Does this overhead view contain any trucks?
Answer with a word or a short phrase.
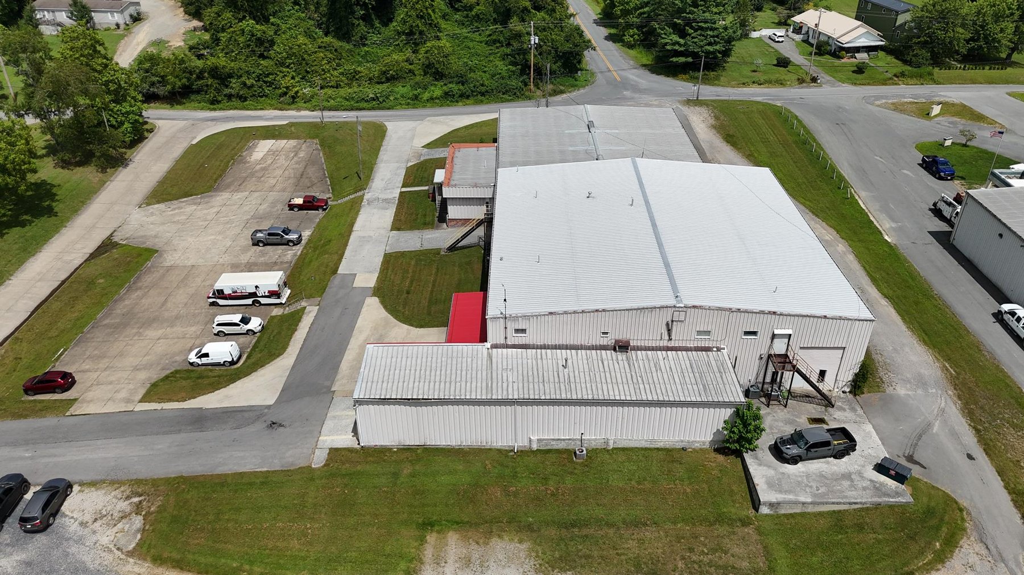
Yes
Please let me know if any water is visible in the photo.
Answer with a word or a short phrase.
No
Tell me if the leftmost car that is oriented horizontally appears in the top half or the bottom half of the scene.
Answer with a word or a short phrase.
bottom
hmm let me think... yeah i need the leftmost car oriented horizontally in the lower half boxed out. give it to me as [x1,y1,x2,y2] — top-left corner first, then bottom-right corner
[15,366,80,393]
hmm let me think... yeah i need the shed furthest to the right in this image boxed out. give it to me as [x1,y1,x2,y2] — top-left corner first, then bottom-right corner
[951,183,1024,304]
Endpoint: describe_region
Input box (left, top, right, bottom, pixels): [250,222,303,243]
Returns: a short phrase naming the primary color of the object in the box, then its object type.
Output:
gray truck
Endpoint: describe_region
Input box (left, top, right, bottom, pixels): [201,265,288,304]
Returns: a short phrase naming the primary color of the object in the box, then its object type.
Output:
white truck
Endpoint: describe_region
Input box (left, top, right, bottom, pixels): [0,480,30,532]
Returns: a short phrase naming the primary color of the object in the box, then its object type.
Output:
black car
